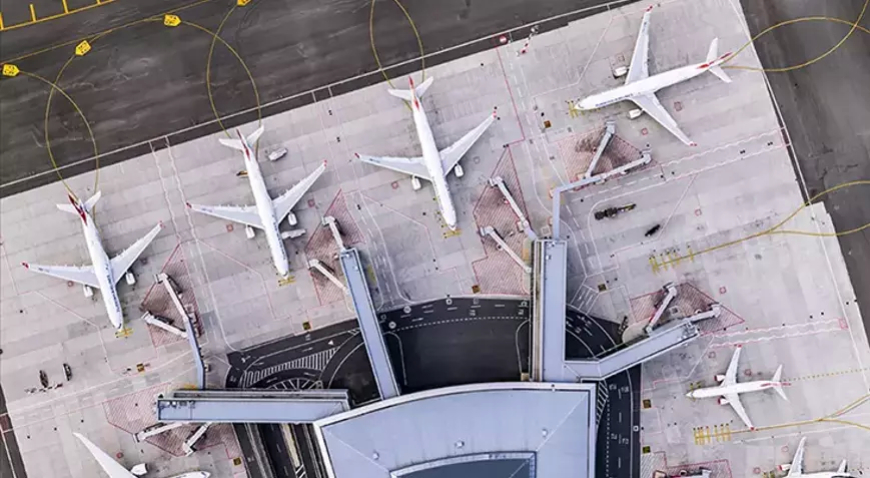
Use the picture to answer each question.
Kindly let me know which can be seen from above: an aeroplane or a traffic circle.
aeroplane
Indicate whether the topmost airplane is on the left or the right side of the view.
right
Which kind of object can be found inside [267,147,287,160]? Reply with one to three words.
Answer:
vehicle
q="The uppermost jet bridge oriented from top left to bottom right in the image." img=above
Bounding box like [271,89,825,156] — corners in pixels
[489,180,531,229]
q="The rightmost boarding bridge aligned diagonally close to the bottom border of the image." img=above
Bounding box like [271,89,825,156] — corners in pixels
[184,422,217,455]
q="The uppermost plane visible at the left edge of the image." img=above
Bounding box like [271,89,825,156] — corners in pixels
[23,190,157,330]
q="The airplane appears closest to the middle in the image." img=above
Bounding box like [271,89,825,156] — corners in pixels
[359,87,495,229]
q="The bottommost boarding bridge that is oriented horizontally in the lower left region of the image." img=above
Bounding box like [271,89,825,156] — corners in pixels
[133,422,192,442]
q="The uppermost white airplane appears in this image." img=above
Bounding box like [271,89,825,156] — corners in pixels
[575,11,717,146]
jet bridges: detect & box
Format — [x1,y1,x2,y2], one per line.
[141,314,192,340]
[155,276,193,318]
[586,125,613,180]
[307,261,351,295]
[644,284,675,335]
[184,422,217,455]
[602,152,650,183]
[322,216,349,252]
[489,180,531,229]
[481,229,534,274]
[684,303,721,323]
[133,422,192,442]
